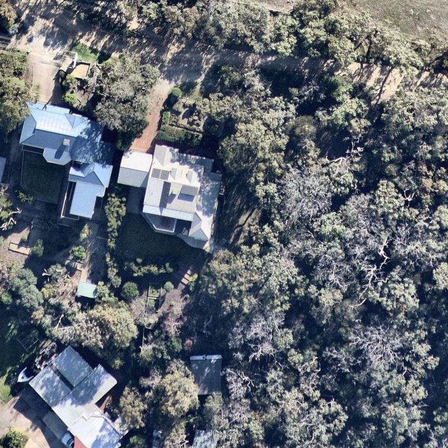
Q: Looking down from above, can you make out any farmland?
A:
No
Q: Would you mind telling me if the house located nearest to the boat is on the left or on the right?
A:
left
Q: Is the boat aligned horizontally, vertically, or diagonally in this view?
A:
diagonally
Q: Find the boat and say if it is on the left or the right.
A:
left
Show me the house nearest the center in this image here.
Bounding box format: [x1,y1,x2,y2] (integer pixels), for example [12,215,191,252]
[143,145,224,240]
